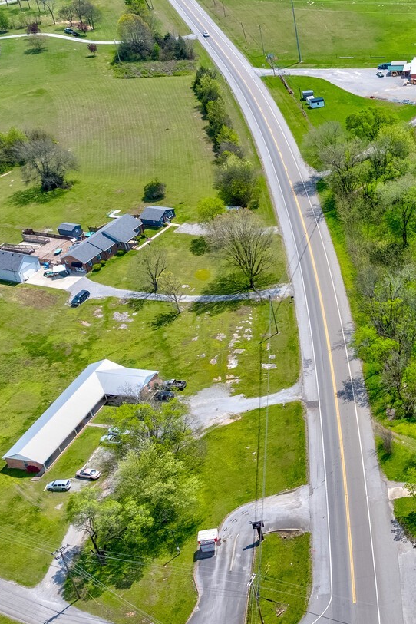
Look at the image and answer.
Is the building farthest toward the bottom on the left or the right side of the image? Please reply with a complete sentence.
It is on the left.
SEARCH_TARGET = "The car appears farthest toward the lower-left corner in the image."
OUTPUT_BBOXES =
[42,478,72,491]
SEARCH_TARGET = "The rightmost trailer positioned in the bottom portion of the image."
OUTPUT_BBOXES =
[189,523,219,552]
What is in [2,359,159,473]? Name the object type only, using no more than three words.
building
